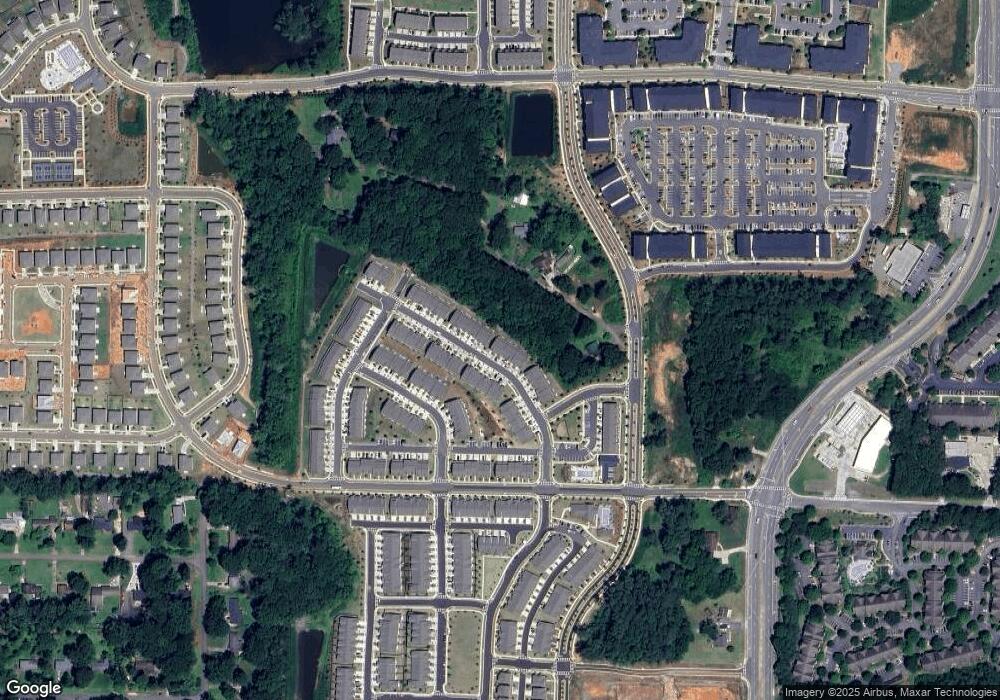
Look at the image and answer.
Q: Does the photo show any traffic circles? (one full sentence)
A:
No, there isn't any traffic circle down there.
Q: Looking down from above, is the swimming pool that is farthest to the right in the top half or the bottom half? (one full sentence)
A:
The swimming pool that is farthest to the right sits in the bottom half of the picture.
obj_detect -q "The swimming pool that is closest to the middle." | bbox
[571,465,603,482]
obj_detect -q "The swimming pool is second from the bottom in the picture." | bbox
[597,504,613,528]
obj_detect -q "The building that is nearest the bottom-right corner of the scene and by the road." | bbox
[920,638,985,669]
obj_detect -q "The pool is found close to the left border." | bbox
[41,40,91,91]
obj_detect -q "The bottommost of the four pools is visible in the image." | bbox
[848,560,875,584]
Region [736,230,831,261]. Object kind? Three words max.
building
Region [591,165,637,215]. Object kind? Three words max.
building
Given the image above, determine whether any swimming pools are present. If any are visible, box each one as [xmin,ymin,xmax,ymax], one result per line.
[597,504,613,528]
[848,560,875,584]
[41,40,91,91]
[571,465,603,482]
